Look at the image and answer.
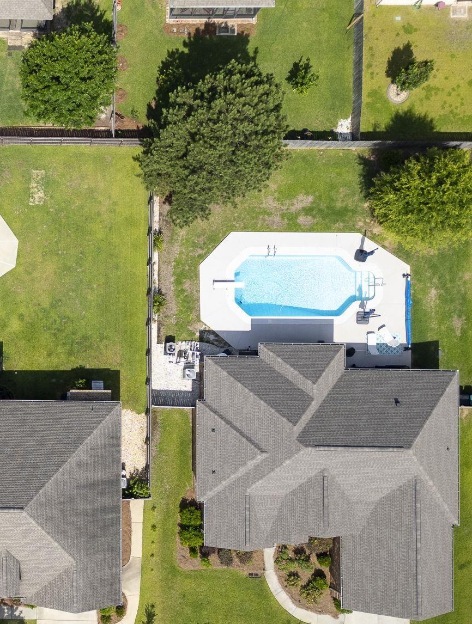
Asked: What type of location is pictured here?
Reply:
residential area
